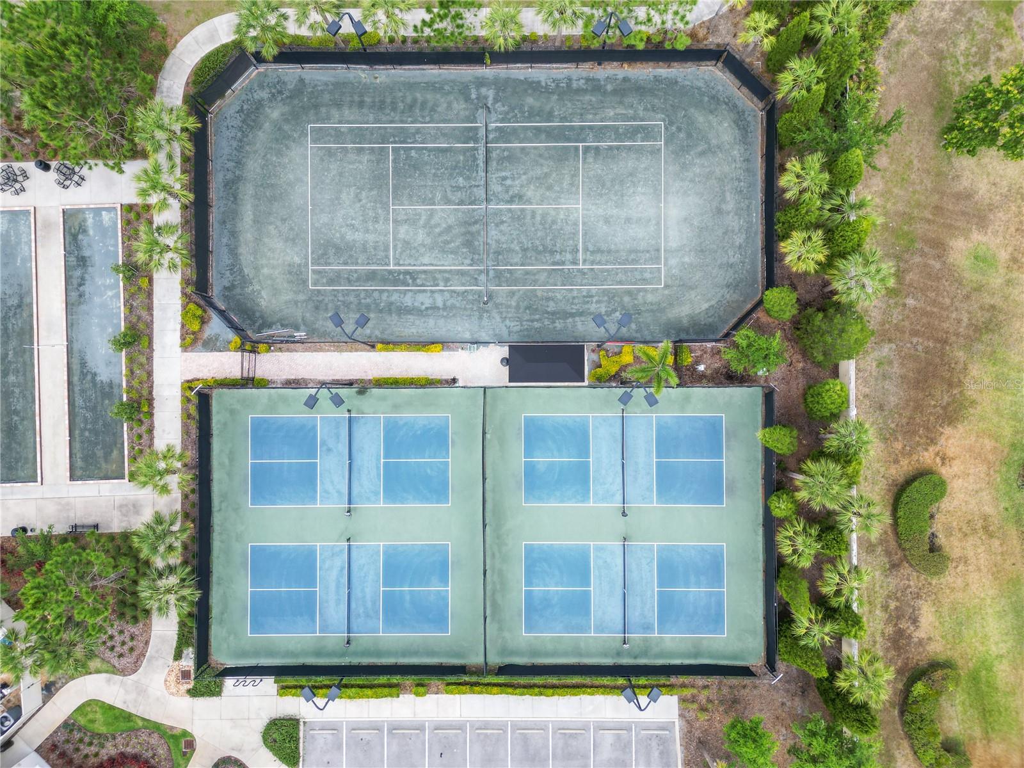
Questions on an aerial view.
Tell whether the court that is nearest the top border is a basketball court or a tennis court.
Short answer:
tennis court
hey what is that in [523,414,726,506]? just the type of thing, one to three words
sports court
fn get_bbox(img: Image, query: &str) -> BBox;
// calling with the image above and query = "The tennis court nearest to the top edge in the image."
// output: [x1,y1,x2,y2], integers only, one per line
[211,66,763,342]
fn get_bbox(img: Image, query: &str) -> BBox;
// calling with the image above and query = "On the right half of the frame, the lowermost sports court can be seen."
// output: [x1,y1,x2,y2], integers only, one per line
[523,542,727,637]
